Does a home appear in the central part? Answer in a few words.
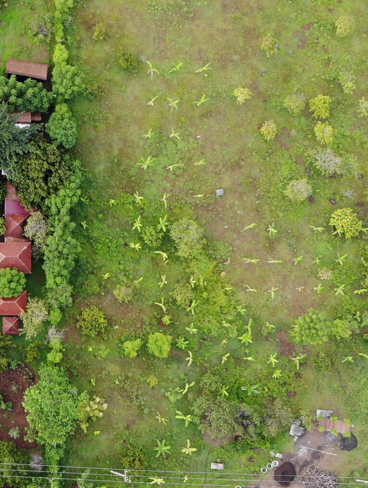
No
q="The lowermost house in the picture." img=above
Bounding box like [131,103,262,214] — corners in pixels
[2,315,21,335]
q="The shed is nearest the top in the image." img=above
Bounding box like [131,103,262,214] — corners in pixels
[6,58,48,85]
